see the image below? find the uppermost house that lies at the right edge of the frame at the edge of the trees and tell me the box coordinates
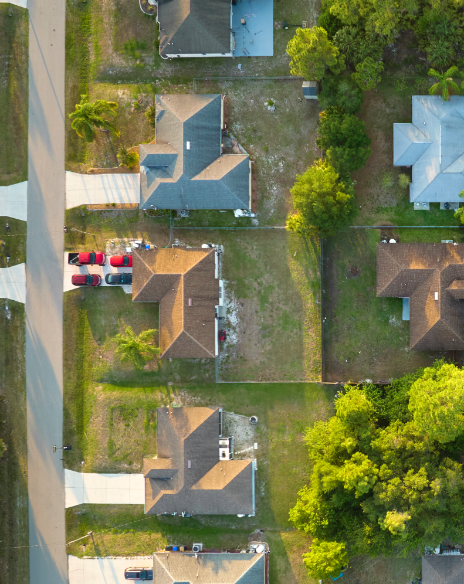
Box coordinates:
[393,95,464,203]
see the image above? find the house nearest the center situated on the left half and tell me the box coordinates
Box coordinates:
[132,247,221,359]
